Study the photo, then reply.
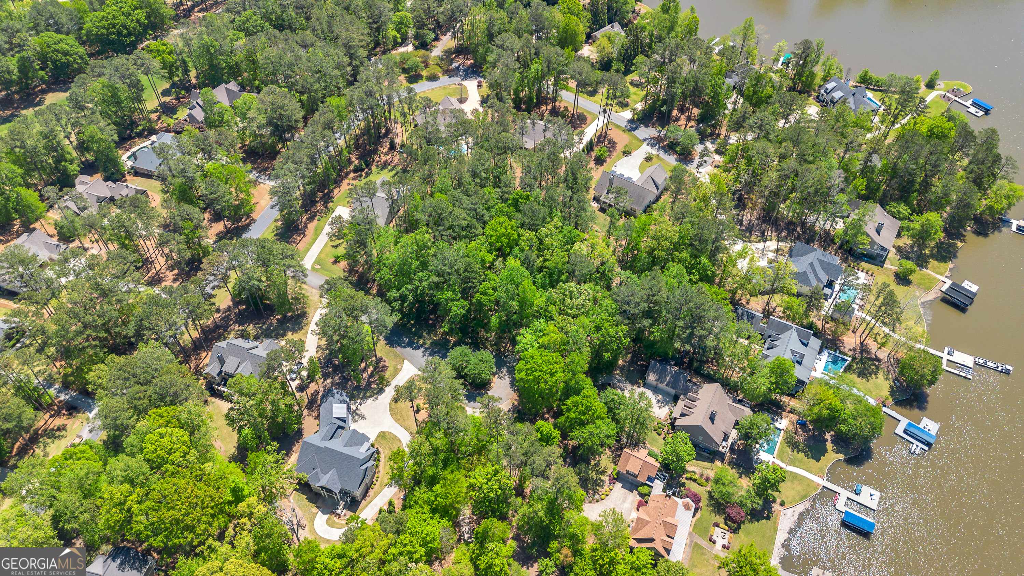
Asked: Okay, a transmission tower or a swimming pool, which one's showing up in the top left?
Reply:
swimming pool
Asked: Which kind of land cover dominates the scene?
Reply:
trees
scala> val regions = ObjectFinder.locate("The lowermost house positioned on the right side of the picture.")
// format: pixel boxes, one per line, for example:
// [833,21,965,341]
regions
[623,489,697,563]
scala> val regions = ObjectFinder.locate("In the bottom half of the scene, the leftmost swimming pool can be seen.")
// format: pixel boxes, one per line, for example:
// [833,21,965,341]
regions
[753,415,789,462]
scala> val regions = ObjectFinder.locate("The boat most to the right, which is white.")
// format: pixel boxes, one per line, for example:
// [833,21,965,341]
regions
[974,355,1014,374]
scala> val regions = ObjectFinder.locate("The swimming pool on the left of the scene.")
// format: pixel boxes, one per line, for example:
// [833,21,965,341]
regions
[122,143,145,163]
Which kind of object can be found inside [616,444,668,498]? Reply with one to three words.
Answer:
building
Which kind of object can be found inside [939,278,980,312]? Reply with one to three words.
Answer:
pier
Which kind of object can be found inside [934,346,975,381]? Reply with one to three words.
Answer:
pier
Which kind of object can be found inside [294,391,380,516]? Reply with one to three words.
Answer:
house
